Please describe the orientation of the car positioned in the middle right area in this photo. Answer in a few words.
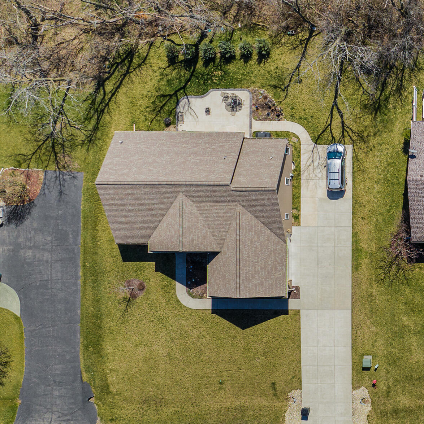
up and down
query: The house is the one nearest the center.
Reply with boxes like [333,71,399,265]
[95,124,296,301]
